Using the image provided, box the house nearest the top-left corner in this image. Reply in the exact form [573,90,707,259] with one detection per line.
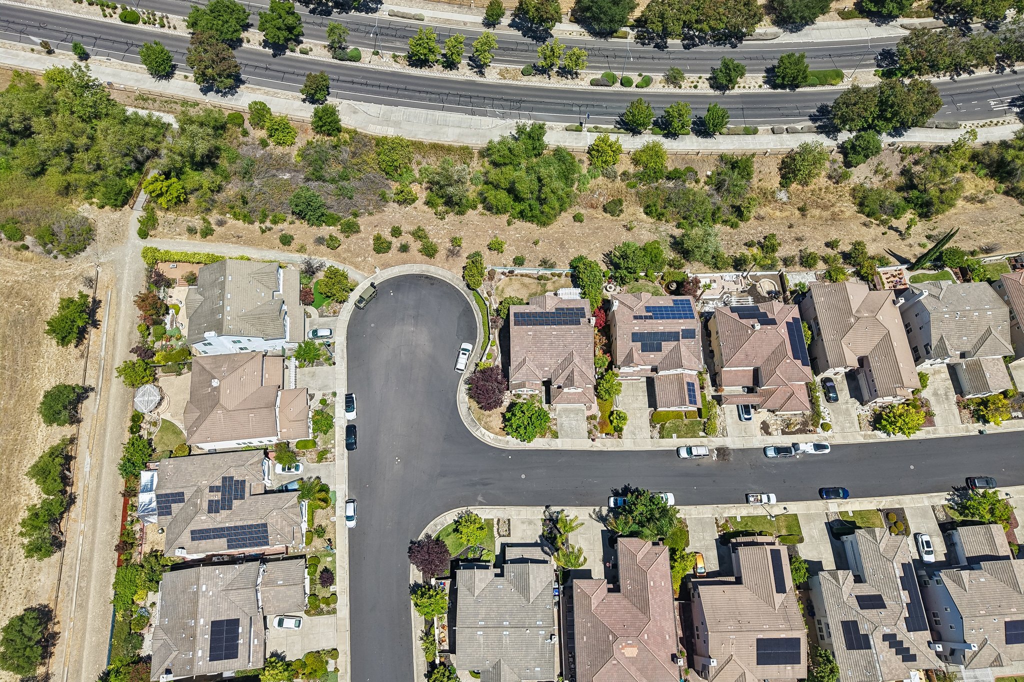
[184,258,308,355]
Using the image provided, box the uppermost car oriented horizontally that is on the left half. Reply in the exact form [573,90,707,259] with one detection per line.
[307,327,333,340]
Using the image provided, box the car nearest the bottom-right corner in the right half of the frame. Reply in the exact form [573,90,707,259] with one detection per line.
[916,532,935,566]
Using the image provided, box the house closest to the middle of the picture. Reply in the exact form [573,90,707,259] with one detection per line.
[509,294,597,408]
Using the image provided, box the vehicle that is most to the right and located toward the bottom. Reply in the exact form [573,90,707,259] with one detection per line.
[964,475,998,489]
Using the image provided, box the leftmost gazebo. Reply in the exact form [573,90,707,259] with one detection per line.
[128,383,164,414]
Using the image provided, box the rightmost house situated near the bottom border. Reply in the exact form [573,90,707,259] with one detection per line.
[922,525,1024,677]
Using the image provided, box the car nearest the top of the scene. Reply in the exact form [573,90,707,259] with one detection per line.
[356,282,378,307]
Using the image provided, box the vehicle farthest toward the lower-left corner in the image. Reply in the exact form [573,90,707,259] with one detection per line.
[271,615,305,631]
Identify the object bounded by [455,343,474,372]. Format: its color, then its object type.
white car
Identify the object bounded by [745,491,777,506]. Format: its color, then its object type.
white vehicle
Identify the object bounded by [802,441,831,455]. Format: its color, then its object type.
white car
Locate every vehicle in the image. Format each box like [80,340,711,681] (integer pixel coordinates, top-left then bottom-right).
[692,550,708,578]
[817,486,850,501]
[646,492,676,505]
[343,497,358,529]
[745,491,777,506]
[344,392,358,420]
[677,444,711,459]
[307,327,333,340]
[820,376,839,404]
[356,282,378,307]
[802,441,831,455]
[274,461,305,475]
[964,475,998,489]
[738,404,753,425]
[764,445,795,458]
[272,473,303,494]
[916,532,935,566]
[344,423,358,452]
[455,343,474,372]
[271,615,305,631]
